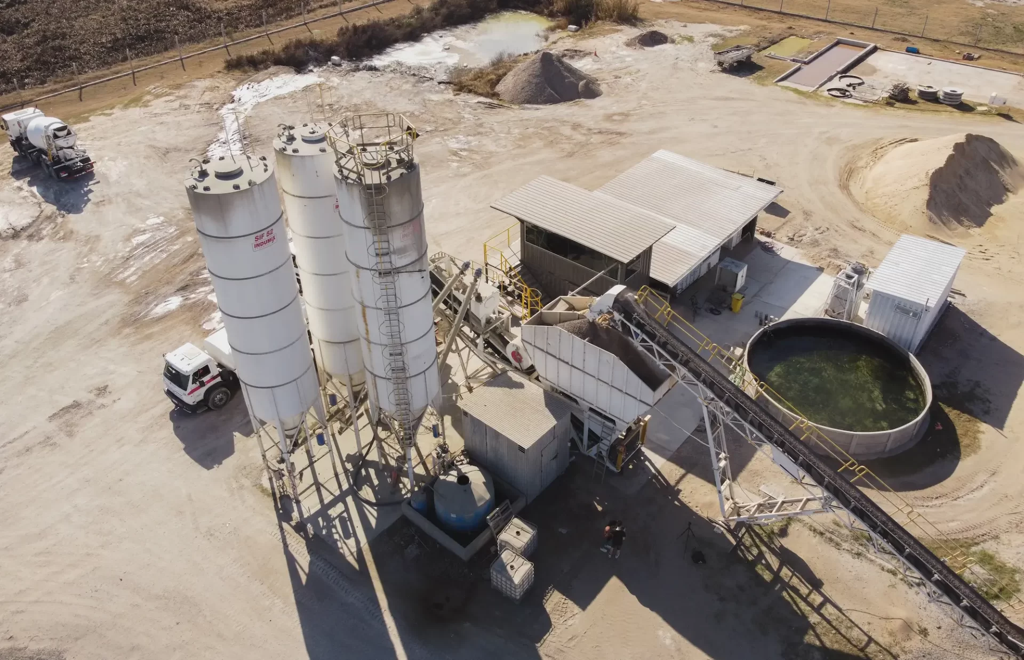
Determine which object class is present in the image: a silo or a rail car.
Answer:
silo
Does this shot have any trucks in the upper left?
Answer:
Yes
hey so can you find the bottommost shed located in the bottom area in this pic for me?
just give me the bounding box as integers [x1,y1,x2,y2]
[459,370,575,495]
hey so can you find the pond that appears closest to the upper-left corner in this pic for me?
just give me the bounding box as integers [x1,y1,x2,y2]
[445,11,554,71]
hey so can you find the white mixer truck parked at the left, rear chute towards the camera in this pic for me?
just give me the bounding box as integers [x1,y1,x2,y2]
[0,104,94,178]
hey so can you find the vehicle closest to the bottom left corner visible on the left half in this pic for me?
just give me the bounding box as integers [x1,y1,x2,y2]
[160,334,243,417]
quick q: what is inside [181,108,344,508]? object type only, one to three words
silo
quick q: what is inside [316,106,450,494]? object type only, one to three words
silo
